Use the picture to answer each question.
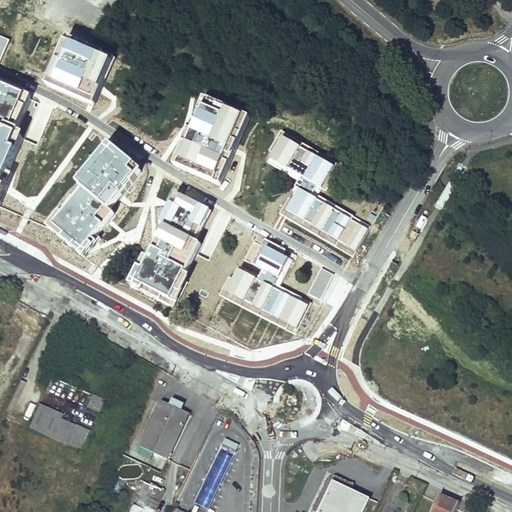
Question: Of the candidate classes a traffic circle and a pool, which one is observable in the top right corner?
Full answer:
It is a traffic circle that can be seen in the top right corner.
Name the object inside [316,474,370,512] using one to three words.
building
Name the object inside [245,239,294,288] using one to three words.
house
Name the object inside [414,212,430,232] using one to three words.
vehicle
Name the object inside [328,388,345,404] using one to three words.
vehicle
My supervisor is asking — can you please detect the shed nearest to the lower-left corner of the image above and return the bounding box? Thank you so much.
[30,403,90,449]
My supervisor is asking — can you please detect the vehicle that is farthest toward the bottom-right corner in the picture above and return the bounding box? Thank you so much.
[454,467,474,482]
